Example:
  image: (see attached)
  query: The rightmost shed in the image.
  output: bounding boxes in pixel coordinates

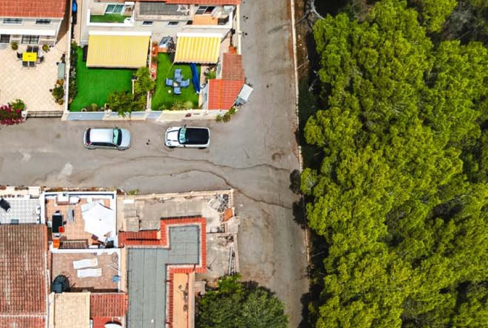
[198,53,245,111]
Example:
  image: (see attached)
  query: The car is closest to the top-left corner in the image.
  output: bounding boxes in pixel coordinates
[83,125,130,152]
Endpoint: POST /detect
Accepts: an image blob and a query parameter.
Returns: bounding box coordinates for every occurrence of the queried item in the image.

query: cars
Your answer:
[163,124,211,150]
[83,125,130,152]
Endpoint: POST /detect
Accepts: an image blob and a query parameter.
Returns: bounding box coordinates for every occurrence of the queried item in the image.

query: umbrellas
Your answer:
[78,200,120,240]
[189,63,201,102]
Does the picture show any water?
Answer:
No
